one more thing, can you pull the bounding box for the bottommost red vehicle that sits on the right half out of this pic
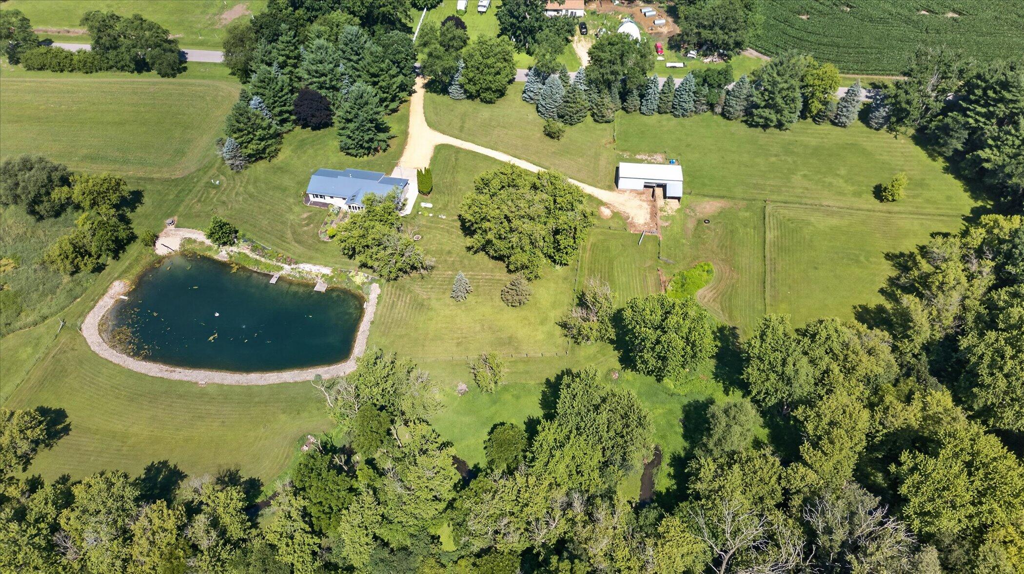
[652,42,668,56]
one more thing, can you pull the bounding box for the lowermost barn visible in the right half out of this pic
[617,162,683,206]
